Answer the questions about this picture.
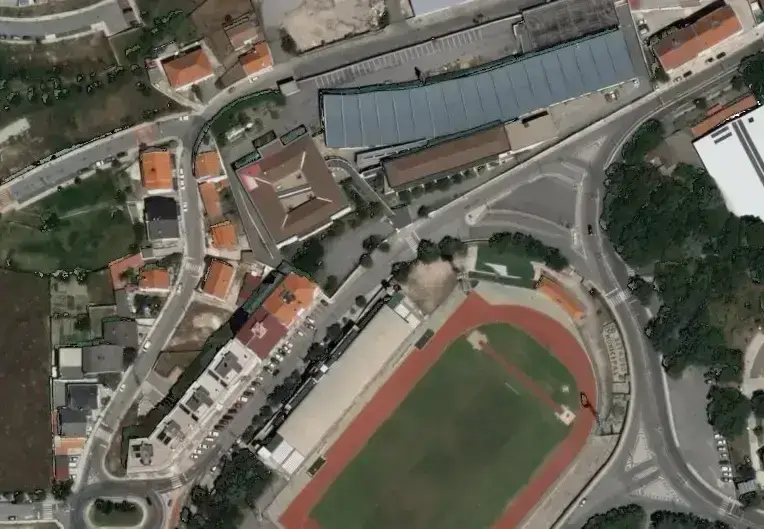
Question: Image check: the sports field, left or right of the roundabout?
on its right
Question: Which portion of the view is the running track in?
bottom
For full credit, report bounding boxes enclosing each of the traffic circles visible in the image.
[87,497,146,529]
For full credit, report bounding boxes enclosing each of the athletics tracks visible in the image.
[270,292,598,529]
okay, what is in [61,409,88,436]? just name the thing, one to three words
house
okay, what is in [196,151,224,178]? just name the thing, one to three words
house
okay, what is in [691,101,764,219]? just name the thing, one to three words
building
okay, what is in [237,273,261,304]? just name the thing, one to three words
shed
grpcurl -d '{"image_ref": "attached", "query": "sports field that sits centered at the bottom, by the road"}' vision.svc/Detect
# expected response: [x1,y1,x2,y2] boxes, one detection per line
[301,323,578,529]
